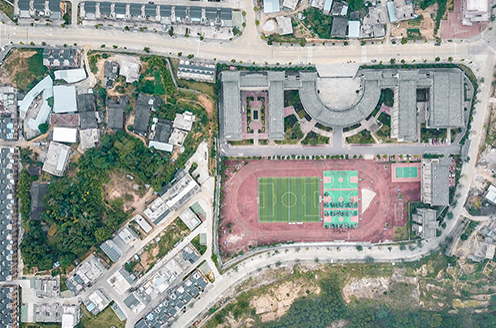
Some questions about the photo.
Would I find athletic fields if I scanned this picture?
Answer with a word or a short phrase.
Yes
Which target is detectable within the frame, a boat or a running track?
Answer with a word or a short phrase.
running track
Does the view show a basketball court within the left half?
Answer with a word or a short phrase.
No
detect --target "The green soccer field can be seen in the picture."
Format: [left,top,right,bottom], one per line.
[258,176,321,223]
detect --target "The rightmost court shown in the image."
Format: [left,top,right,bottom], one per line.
[392,163,418,182]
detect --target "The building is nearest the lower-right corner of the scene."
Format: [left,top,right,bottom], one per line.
[471,241,495,259]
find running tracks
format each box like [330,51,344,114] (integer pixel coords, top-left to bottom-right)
[230,160,388,239]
